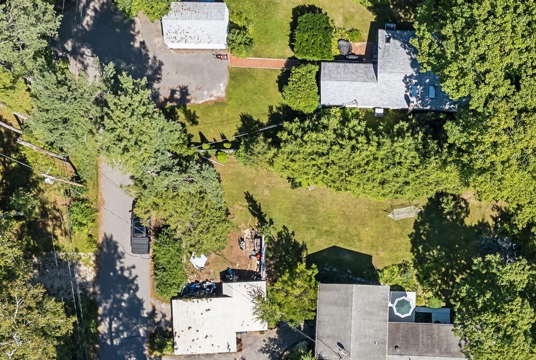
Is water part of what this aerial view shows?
No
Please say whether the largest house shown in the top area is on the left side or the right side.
right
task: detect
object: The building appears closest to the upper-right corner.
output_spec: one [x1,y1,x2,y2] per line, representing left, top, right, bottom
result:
[319,22,467,118]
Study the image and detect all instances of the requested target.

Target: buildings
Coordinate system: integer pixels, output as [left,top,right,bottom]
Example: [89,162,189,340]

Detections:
[162,1,229,49]
[173,282,269,356]
[315,284,481,360]
[319,22,467,118]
